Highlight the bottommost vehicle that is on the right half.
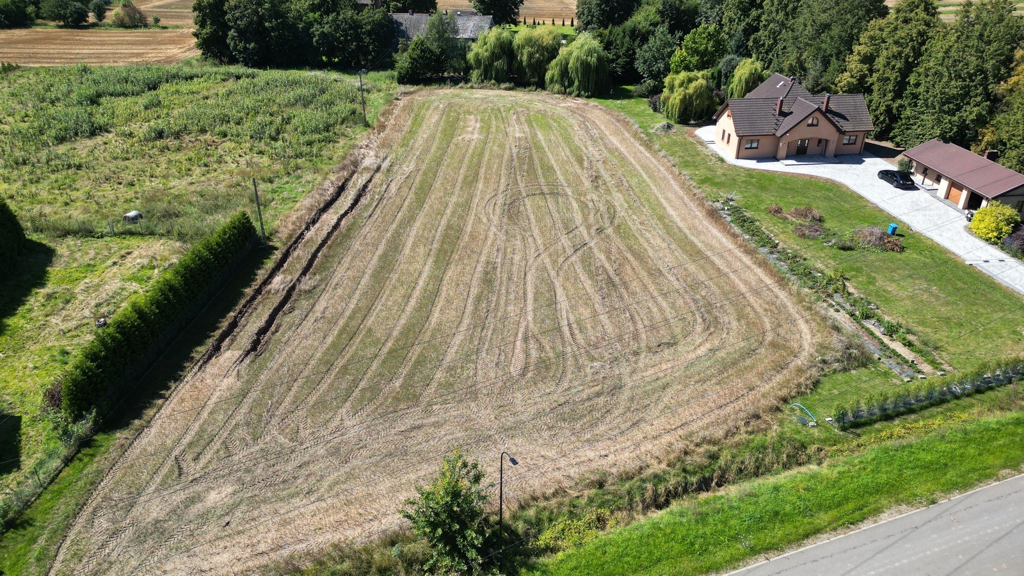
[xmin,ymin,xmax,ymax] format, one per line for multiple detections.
[877,167,914,184]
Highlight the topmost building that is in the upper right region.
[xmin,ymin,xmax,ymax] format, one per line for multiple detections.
[704,69,873,162]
